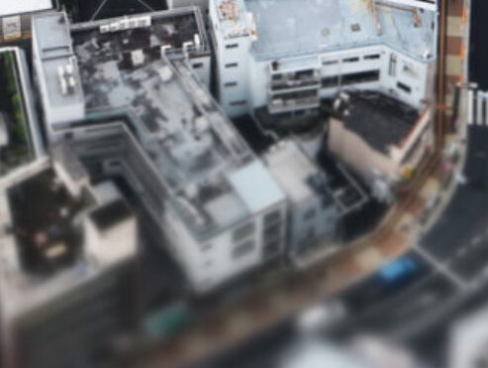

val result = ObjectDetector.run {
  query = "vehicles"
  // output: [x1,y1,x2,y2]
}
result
[374,256,418,289]
[294,301,346,338]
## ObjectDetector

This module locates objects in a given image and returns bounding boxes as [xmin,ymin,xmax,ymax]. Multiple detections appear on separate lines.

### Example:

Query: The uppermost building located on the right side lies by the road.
[208,0,439,113]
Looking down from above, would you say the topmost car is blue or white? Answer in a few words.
blue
